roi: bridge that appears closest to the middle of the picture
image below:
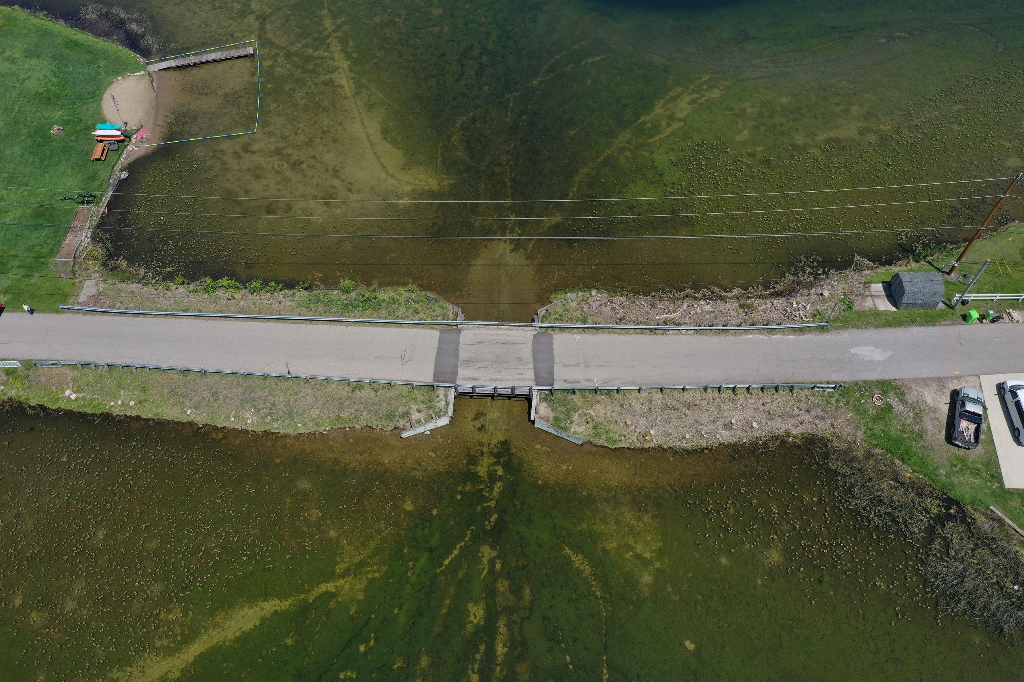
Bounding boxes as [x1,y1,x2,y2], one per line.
[454,313,540,427]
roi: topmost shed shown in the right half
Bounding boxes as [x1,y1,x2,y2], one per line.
[885,272,945,309]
